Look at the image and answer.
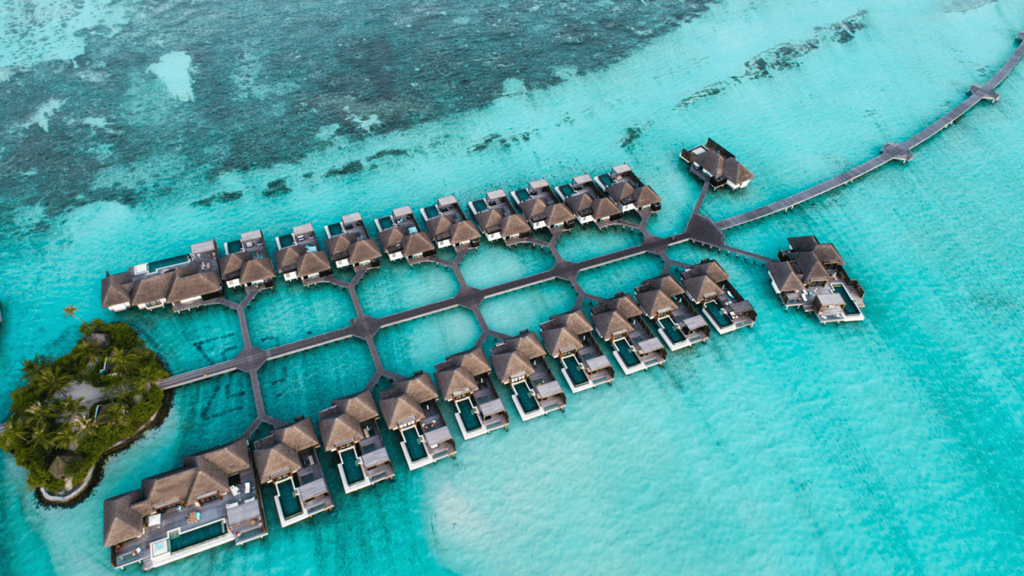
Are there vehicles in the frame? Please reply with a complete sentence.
No, the photo shows no vehicle.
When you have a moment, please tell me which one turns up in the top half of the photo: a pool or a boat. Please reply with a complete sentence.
Looking in the top half of the photo, you will find a pool.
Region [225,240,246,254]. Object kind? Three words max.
swimming pool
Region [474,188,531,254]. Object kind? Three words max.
house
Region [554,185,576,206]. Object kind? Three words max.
swimming pool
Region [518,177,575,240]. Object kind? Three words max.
house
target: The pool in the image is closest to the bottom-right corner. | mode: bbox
[827,284,864,323]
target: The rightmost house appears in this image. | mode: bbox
[760,234,869,329]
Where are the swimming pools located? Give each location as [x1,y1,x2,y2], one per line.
[654,316,691,354]
[610,337,646,378]
[689,146,707,156]
[593,175,616,196]
[400,424,434,473]
[276,234,298,251]
[225,240,246,254]
[375,217,397,233]
[325,223,346,239]
[700,301,737,338]
[468,200,490,221]
[338,445,371,496]
[454,397,487,443]
[275,475,310,530]
[559,354,594,396]
[511,379,545,424]
[511,190,532,211]
[827,284,864,323]
[420,206,441,222]
[554,185,576,206]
